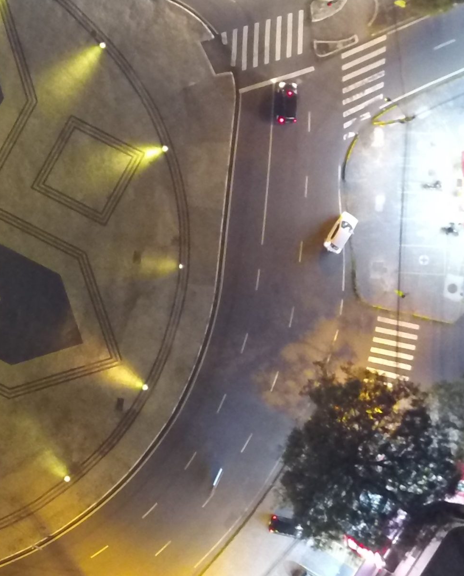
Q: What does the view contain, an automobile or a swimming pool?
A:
automobile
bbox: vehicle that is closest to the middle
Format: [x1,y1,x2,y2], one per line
[323,212,355,254]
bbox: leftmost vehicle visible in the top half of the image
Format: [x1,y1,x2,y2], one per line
[273,81,299,126]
